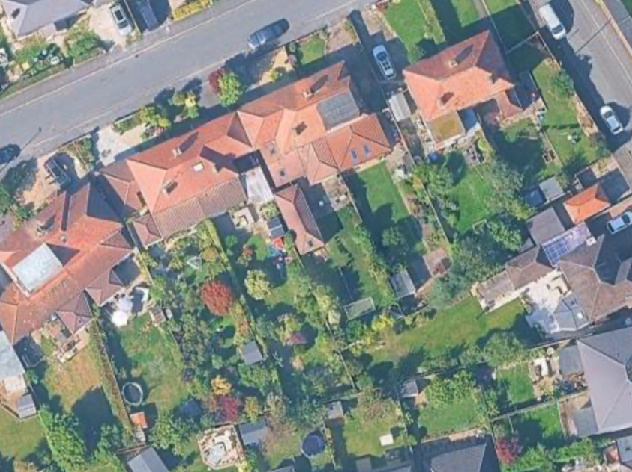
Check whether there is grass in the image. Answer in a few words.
Yes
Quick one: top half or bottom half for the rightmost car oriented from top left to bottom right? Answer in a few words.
top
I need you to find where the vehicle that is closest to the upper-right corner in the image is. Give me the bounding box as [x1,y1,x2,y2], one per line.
[536,0,567,39]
